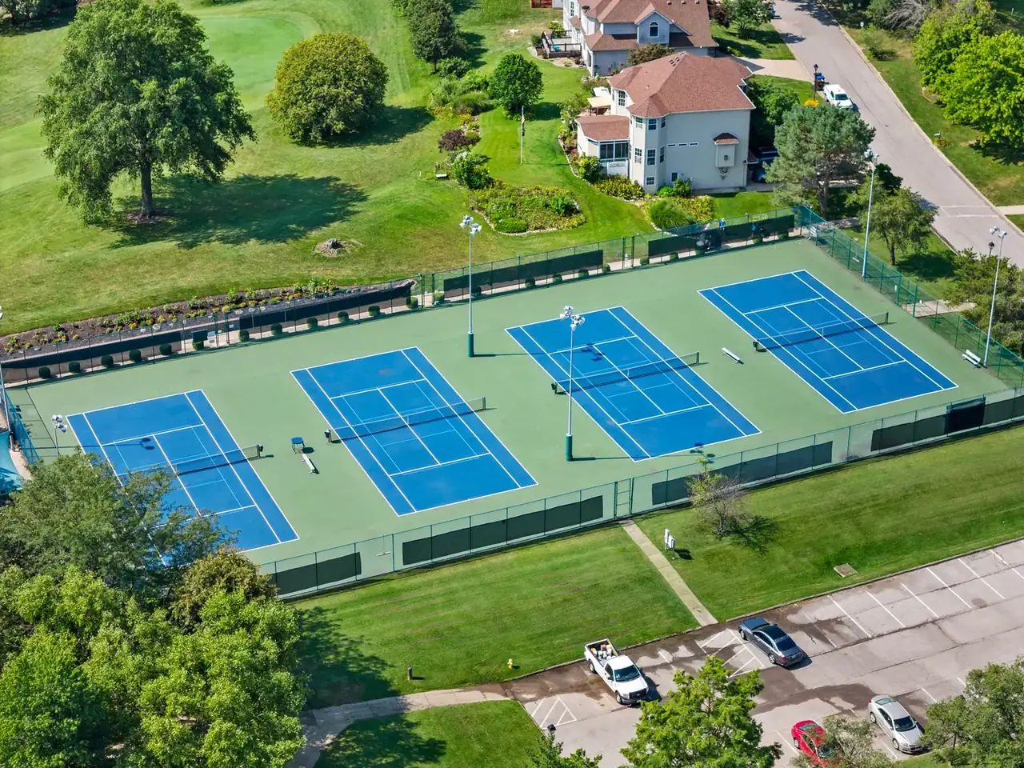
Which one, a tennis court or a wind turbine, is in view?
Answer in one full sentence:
There is a tennis court in the scene.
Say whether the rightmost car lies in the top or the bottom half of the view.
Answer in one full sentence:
The rightmost car sits in the bottom half of the picture.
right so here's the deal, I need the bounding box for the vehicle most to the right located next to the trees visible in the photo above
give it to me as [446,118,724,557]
[868,694,930,749]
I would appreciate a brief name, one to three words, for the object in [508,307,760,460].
tennis court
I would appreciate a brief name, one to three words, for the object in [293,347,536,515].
tennis court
